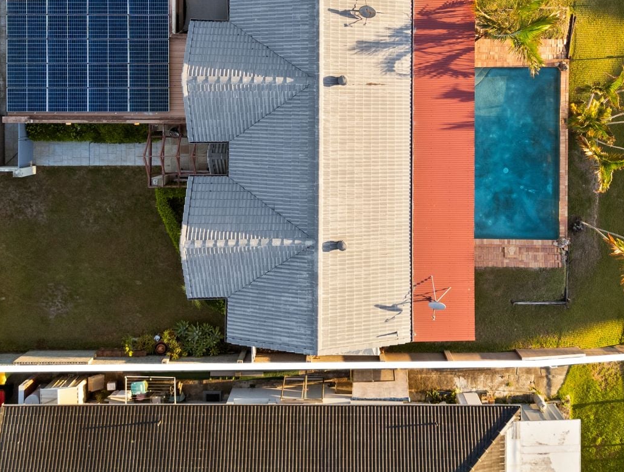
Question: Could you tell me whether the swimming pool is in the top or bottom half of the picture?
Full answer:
The top half of the photo is where the swimming pool is.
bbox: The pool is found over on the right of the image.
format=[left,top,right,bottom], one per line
[475,40,569,267]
